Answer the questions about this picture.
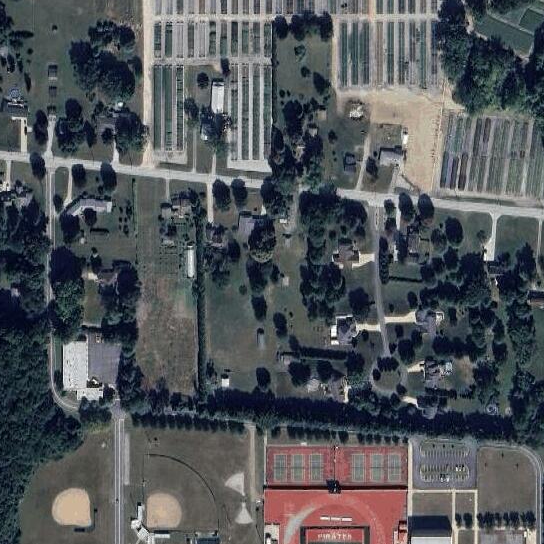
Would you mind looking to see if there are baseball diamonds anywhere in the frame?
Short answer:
Yes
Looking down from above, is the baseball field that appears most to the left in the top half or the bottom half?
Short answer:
bottom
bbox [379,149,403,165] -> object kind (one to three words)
house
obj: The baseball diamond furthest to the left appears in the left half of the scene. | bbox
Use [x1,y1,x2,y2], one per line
[53,488,91,525]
